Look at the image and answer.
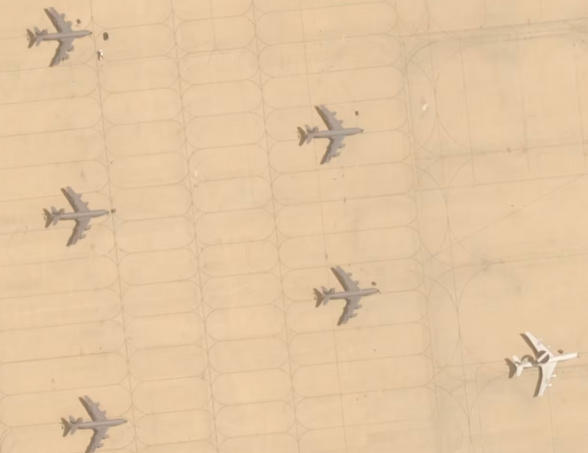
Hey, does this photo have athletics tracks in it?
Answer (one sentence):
No, I can't see a single athletics track in this photo.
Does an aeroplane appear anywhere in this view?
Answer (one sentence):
Yes, this view includes an aeroplane.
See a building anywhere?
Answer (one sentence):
No, the frame has no building in it.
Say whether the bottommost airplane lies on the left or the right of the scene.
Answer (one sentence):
The bottommost airplane is on the left side of the image.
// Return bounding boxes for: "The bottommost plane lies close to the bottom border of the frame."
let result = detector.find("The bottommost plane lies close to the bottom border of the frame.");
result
[68,395,127,453]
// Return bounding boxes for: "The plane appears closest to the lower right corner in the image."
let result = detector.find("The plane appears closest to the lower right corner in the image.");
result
[513,331,579,396]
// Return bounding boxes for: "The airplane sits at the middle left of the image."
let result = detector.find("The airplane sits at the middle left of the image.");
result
[50,187,109,245]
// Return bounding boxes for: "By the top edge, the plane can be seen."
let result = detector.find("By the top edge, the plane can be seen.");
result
[34,7,92,66]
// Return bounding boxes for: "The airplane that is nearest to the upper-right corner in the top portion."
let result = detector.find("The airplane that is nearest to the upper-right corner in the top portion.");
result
[305,104,363,164]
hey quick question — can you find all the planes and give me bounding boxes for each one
[50,187,109,245]
[68,395,127,453]
[34,7,92,66]
[305,104,363,164]
[321,265,379,324]
[513,331,579,396]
